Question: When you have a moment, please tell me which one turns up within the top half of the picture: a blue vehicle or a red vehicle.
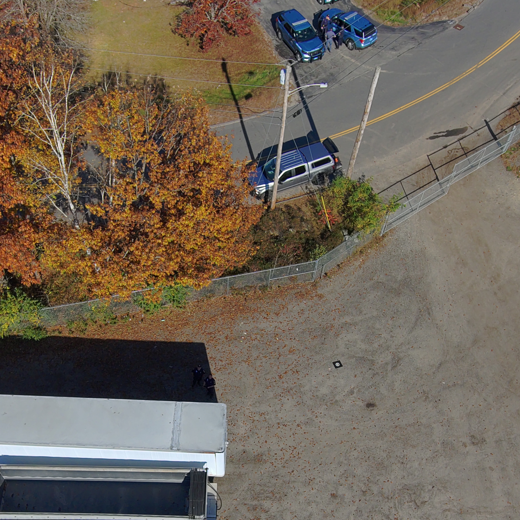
blue vehicle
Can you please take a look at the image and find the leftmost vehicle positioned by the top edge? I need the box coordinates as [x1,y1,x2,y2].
[274,9,326,64]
